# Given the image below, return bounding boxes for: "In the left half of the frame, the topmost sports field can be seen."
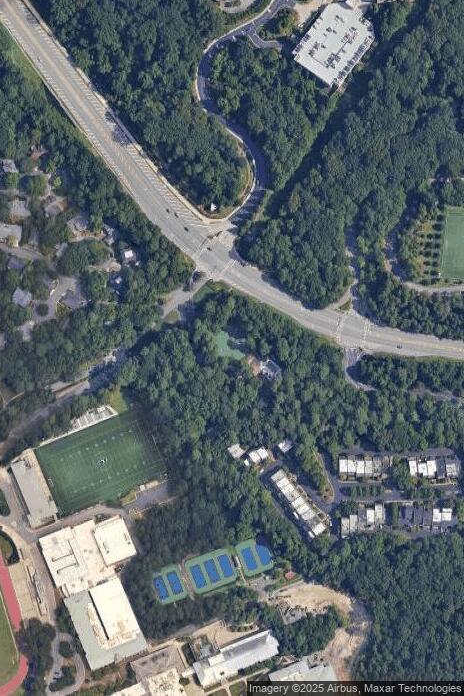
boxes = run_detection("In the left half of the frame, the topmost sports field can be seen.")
[34,405,168,519]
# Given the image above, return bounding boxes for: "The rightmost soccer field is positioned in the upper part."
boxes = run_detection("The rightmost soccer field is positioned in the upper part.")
[443,209,464,283]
